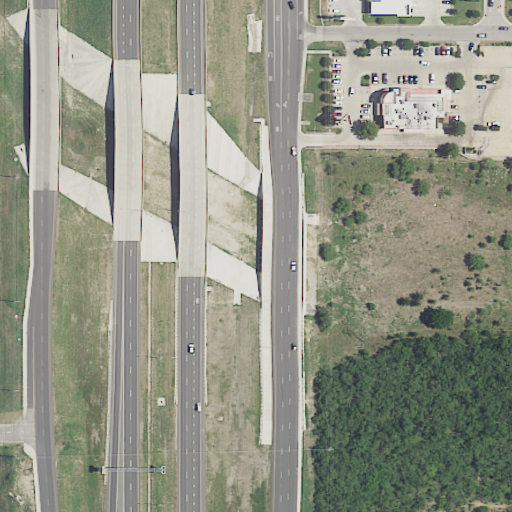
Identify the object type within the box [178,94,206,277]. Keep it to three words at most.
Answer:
bridge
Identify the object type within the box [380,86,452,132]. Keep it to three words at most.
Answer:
building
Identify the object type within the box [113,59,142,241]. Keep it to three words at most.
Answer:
bridge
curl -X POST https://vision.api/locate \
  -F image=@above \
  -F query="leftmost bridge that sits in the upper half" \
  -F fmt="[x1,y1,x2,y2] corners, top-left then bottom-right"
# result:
[30,9,60,190]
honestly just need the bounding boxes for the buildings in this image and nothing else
[362,0,412,15]
[380,86,452,132]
